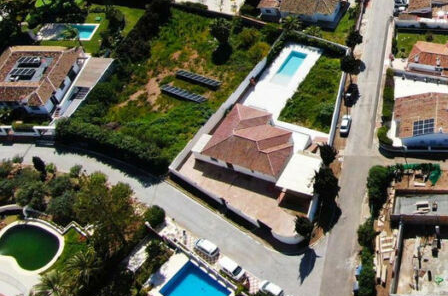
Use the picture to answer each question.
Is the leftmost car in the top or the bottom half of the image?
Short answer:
bottom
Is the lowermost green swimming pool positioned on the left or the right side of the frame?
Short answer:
left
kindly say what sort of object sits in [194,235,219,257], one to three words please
car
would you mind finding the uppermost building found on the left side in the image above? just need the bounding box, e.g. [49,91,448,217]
[0,47,116,112]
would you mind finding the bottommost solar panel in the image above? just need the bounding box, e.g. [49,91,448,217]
[413,118,434,135]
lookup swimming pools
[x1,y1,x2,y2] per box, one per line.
[270,50,309,87]
[68,22,103,42]
[0,220,66,274]
[154,258,235,296]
